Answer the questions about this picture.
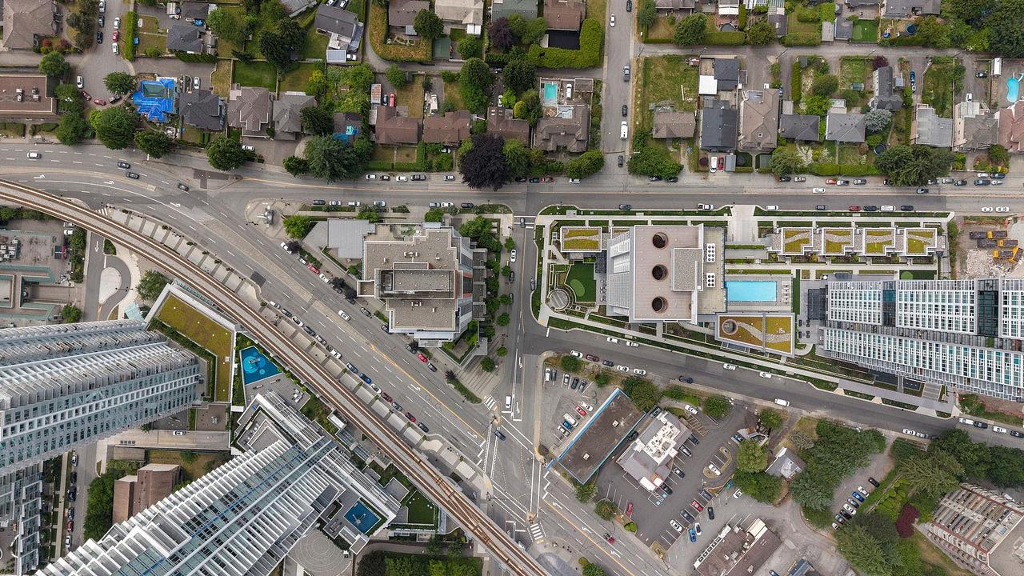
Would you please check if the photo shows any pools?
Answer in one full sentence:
Yes, this view includes a pool.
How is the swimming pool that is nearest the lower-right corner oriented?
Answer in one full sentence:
The swimming pool that is nearest the lower-right corner runs from side to side in the image.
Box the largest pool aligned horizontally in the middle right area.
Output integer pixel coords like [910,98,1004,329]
[725,280,777,302]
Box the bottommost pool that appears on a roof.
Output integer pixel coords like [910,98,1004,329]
[342,500,382,534]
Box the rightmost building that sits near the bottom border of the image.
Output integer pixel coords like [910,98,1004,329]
[929,484,1024,576]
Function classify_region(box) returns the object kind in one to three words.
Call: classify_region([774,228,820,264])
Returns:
house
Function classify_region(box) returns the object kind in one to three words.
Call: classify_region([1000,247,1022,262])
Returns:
work vehicle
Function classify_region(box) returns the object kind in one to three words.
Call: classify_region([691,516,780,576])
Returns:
building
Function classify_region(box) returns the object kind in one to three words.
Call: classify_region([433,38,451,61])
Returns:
shed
